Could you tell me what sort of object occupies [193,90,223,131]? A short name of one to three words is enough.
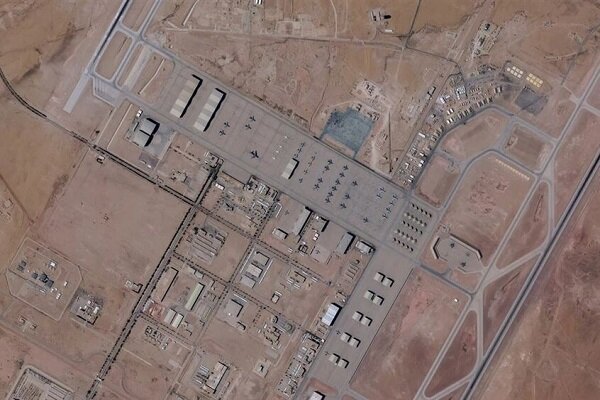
hangar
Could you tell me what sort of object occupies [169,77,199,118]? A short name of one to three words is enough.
hangar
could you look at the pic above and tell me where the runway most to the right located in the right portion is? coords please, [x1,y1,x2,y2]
[459,142,600,400]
